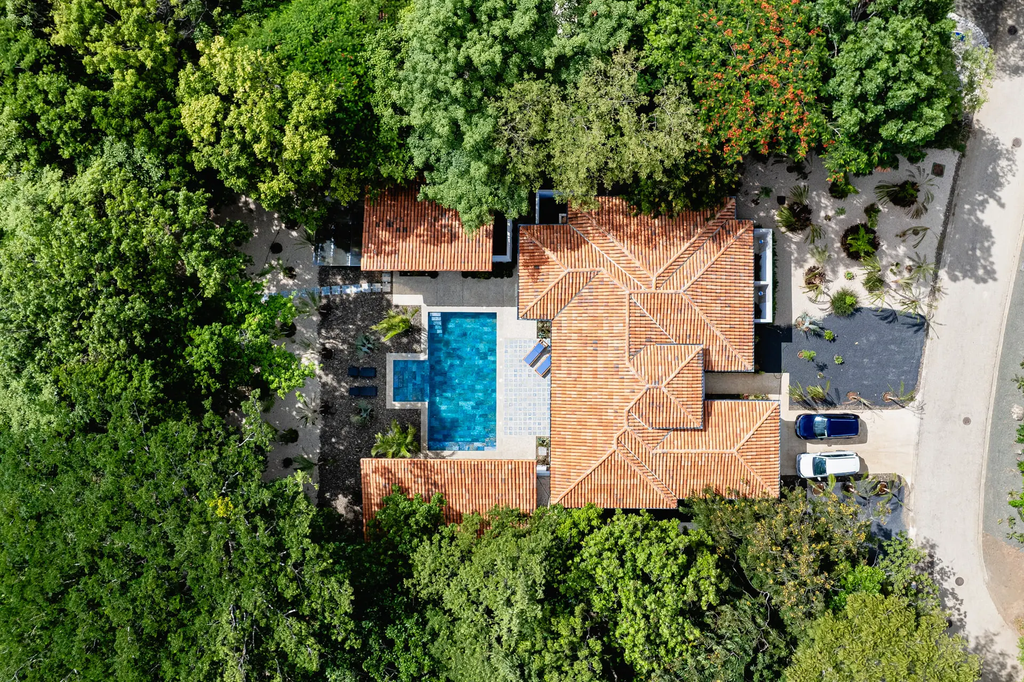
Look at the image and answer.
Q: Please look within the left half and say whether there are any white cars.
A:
No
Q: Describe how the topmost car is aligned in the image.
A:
horizontally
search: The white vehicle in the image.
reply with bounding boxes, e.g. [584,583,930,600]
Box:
[794,450,860,480]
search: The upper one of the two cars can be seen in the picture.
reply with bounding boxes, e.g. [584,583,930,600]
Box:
[793,412,860,442]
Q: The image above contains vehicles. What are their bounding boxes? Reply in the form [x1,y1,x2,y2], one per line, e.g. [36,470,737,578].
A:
[793,412,860,442]
[794,450,860,480]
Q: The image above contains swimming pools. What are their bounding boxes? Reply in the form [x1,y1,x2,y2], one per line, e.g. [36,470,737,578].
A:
[393,312,497,451]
